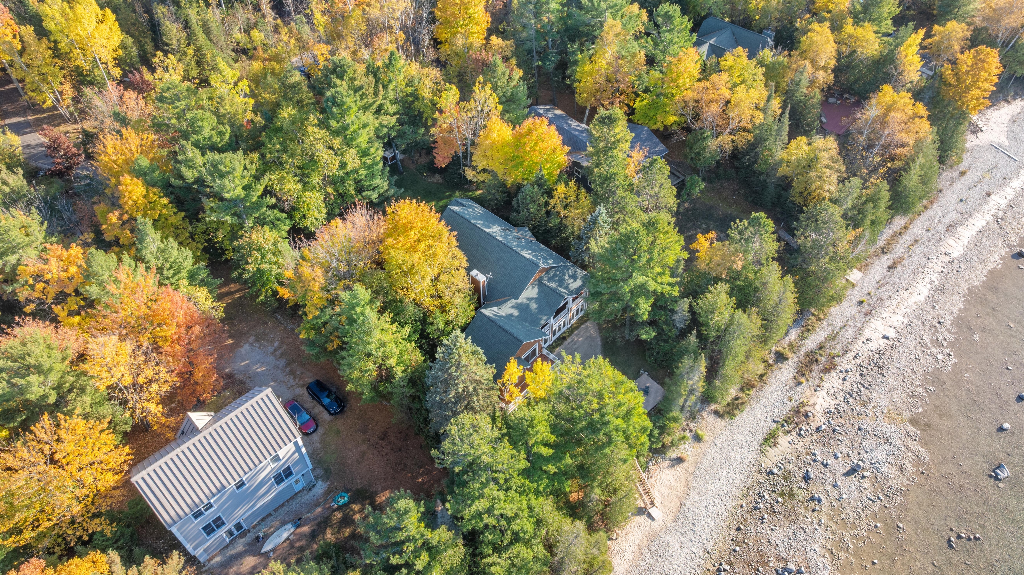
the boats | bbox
[261,514,304,555]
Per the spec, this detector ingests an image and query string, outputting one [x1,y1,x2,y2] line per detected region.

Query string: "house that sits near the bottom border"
[129,385,313,562]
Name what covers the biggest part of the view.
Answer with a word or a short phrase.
trees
